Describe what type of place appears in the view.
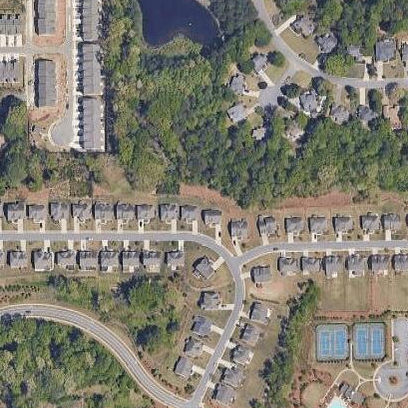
residential area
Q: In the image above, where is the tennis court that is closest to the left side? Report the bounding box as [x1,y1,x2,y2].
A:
[316,323,349,361]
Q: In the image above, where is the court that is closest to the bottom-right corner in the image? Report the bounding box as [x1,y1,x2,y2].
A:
[353,322,387,360]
